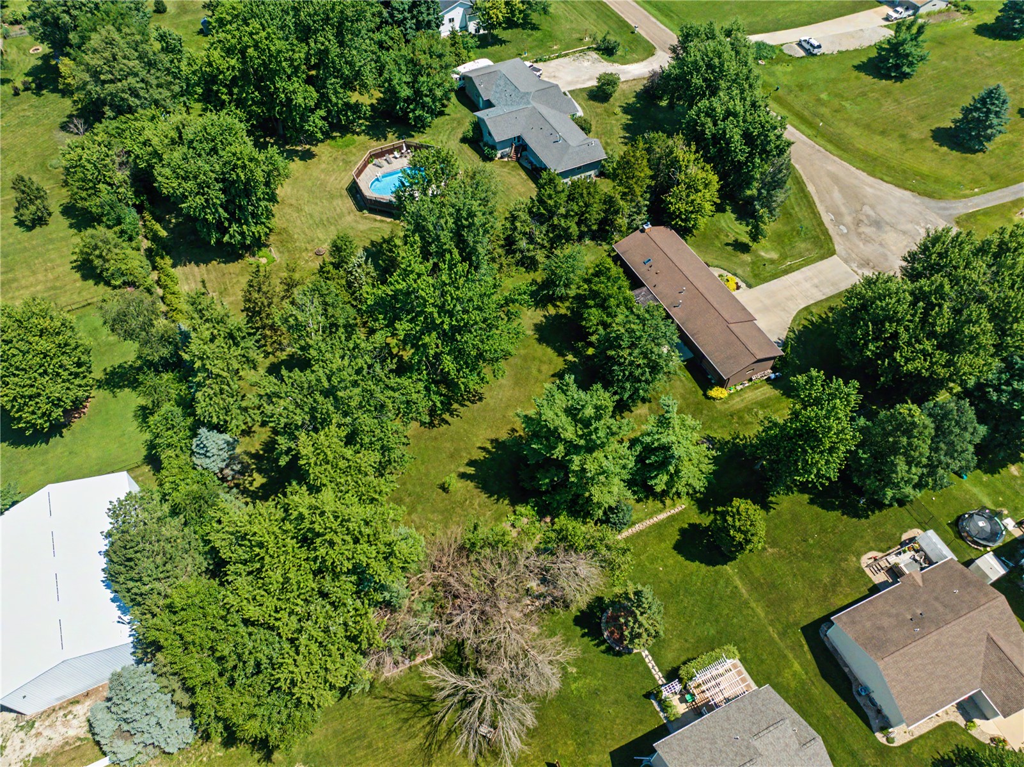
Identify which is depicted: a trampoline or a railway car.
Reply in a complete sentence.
The one in the frame is a trampoline.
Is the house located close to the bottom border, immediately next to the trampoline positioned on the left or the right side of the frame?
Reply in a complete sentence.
You can find the house located close to the bottom border, immediately next to the trampoline on the right side of the picture.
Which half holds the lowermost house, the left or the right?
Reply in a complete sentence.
The lowermost house sits on the right side.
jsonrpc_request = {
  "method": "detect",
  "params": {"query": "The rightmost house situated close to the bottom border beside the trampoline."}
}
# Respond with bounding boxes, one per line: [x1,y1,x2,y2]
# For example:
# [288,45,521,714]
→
[825,558,1024,731]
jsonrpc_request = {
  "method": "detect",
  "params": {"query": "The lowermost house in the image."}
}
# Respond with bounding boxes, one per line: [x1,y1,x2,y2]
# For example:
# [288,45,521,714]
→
[652,683,833,767]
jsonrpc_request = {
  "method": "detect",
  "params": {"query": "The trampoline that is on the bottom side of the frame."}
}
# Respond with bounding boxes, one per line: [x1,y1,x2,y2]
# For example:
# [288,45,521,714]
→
[955,503,1013,552]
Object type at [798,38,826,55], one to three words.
car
